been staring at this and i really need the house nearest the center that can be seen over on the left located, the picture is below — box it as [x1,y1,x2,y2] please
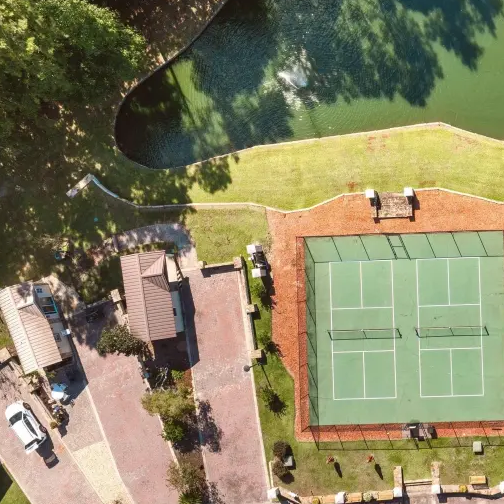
[119,249,185,347]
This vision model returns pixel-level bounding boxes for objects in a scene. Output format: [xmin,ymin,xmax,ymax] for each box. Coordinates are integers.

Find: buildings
[0,279,77,377]
[119,249,185,347]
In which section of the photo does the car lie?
bottom left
